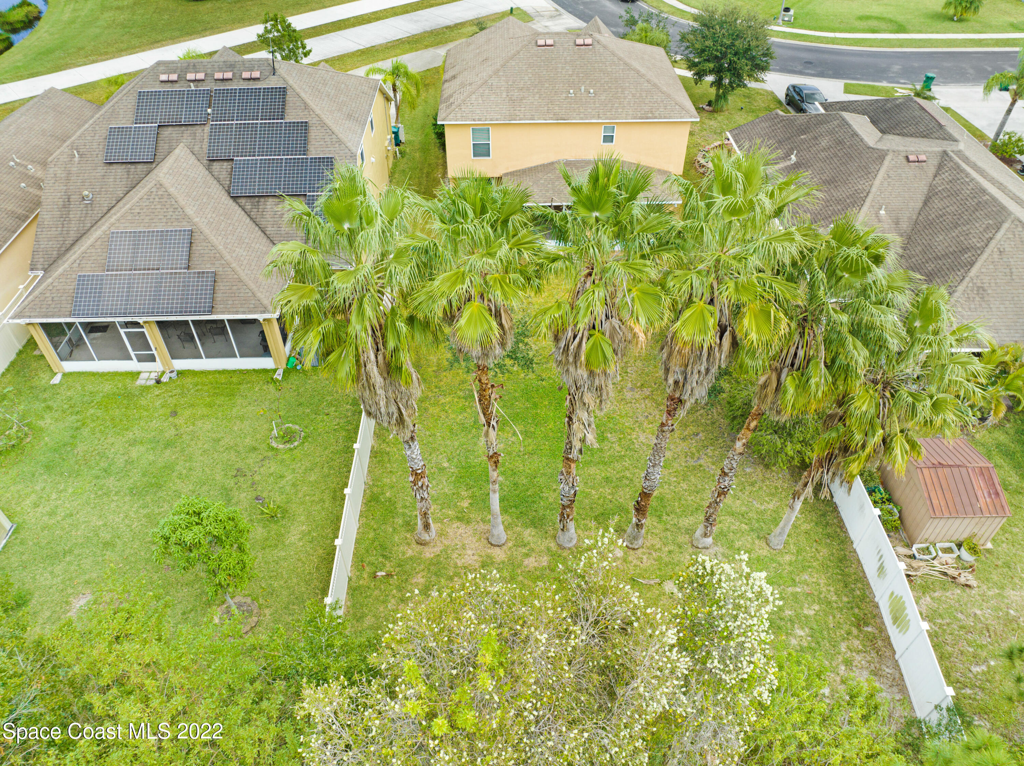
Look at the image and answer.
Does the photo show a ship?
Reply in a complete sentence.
No, there isn't any ship down there.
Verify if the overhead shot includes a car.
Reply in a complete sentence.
Yes, there's a car here.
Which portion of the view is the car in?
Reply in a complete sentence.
Look in the top right portion of the view to spot the car.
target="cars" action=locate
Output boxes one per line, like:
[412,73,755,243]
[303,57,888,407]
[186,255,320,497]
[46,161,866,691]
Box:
[783,83,837,114]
